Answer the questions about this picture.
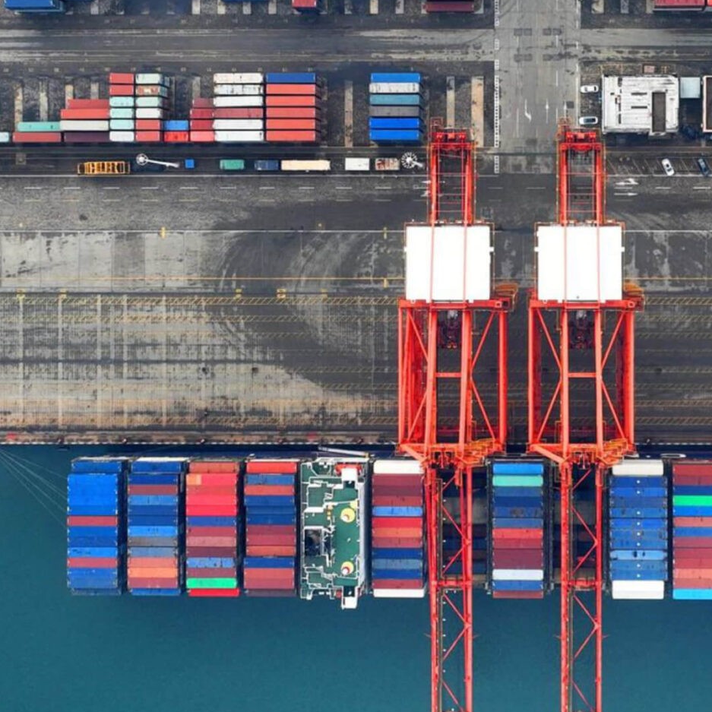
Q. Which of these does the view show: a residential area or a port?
port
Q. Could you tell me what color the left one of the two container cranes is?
red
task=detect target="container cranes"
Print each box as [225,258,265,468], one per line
[515,115,651,712]
[393,115,528,712]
